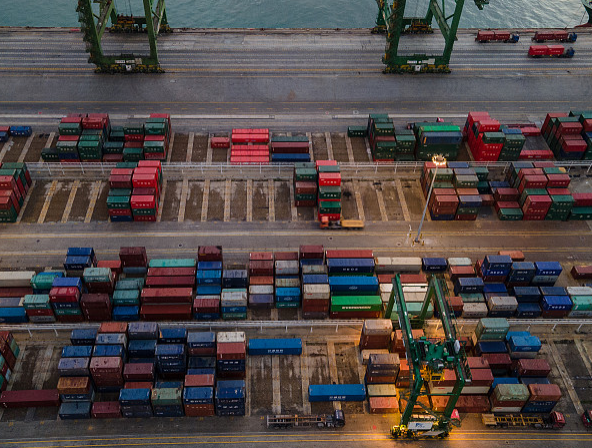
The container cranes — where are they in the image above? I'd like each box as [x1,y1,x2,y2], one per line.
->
[69,0,173,71]
[369,273,471,435]
[369,0,487,72]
